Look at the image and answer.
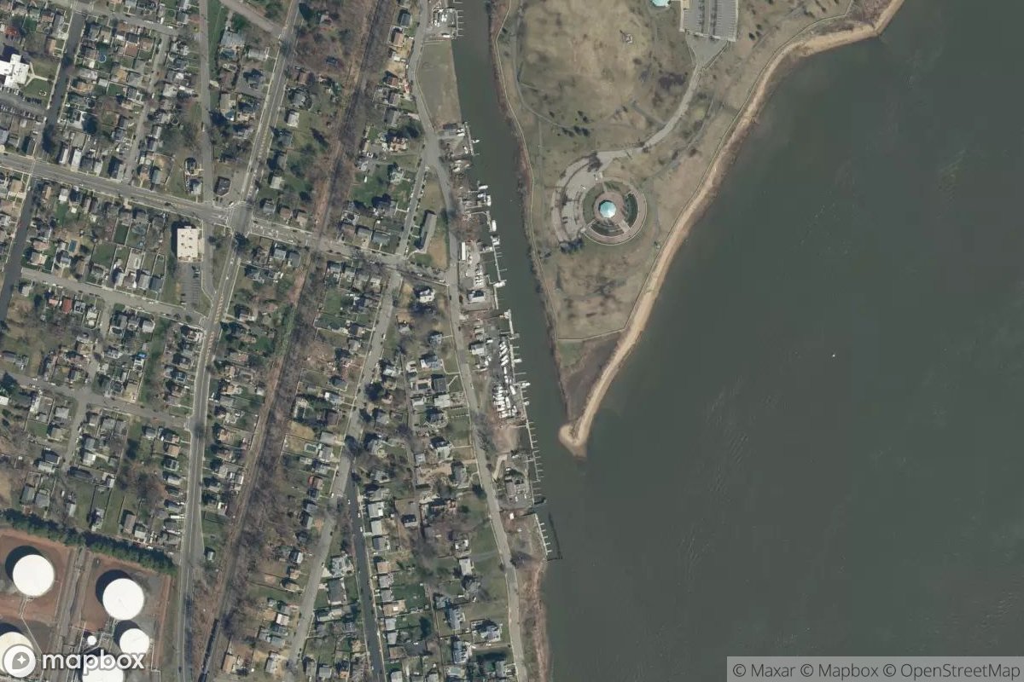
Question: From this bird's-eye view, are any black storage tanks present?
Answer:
No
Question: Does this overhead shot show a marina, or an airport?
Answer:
marina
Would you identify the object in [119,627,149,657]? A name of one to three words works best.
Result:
storage tank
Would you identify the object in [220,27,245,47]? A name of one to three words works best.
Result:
house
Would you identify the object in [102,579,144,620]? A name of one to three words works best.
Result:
storage tank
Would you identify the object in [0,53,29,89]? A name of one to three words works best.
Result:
building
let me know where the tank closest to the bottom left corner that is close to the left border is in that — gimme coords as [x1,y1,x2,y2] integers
[0,633,34,678]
